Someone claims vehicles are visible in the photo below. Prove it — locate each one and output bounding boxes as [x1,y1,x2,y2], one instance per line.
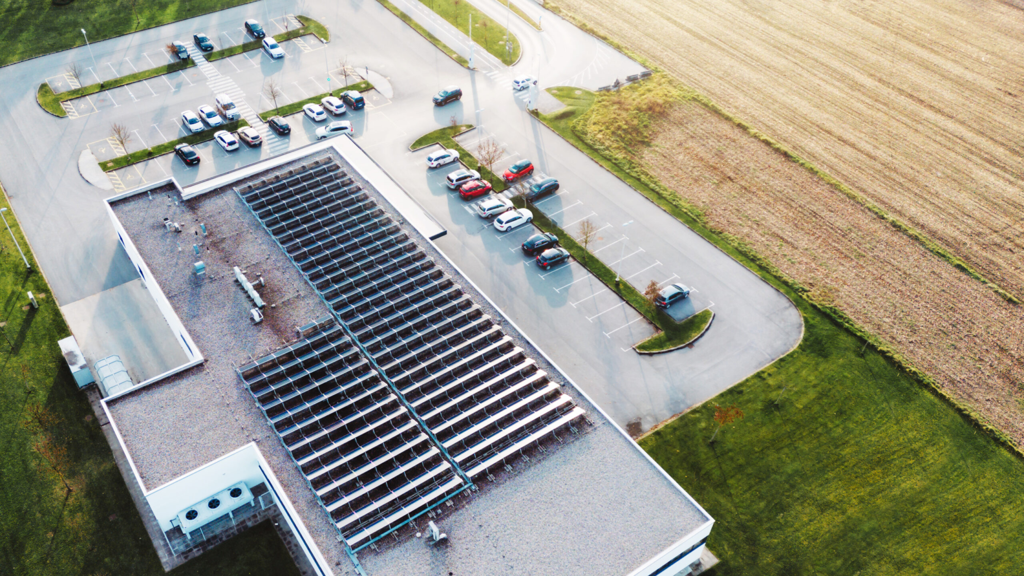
[501,160,535,181]
[322,96,349,117]
[168,40,189,60]
[341,91,367,111]
[457,180,493,202]
[194,34,216,52]
[197,103,222,125]
[533,247,570,271]
[524,175,562,201]
[304,104,329,124]
[179,109,203,131]
[422,149,460,170]
[443,169,481,191]
[236,126,262,148]
[475,198,514,221]
[214,94,240,120]
[262,39,285,59]
[519,231,558,257]
[652,283,691,310]
[314,118,354,140]
[175,144,201,167]
[512,75,538,92]
[243,20,264,38]
[431,84,463,106]
[270,116,295,136]
[215,131,241,154]
[490,209,533,234]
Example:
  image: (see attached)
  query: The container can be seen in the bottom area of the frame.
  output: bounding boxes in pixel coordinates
[56,334,97,392]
